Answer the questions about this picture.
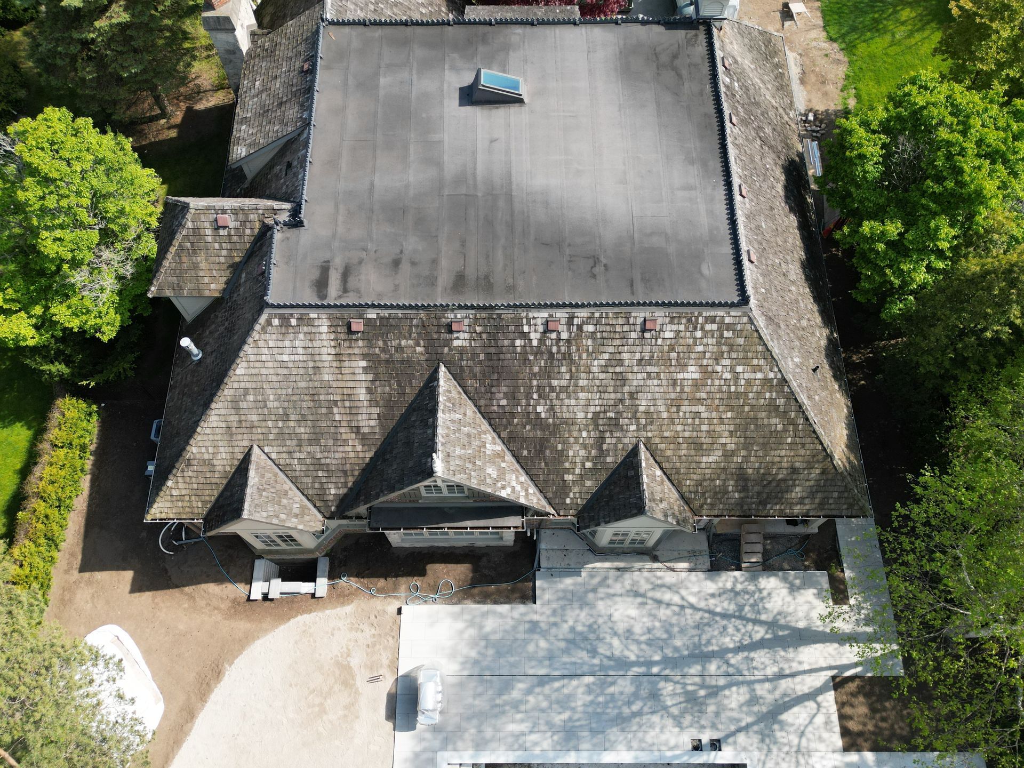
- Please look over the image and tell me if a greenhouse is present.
No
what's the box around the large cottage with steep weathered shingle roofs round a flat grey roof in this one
[141,0,877,551]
